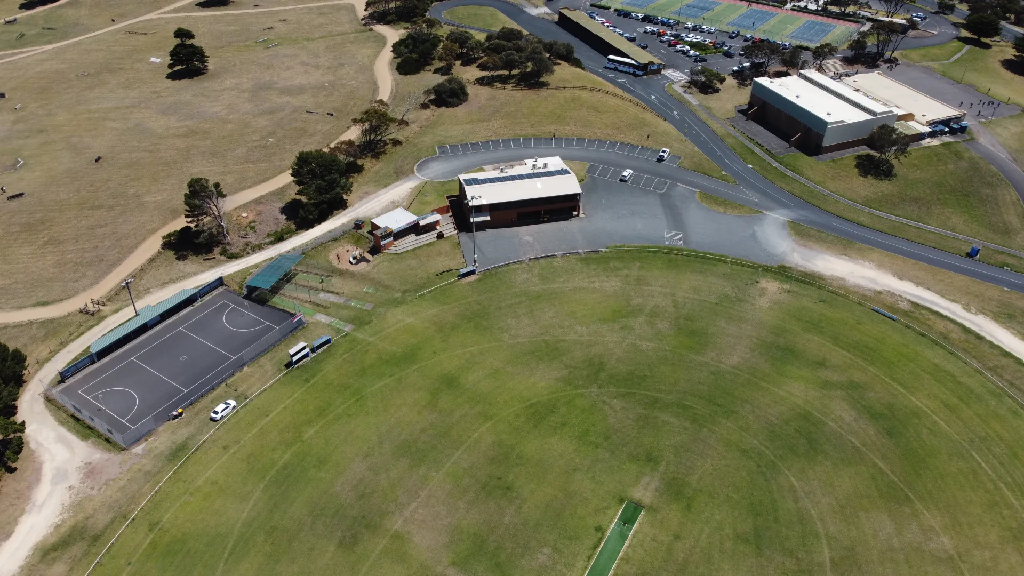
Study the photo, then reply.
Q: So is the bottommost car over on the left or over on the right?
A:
left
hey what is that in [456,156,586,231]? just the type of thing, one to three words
building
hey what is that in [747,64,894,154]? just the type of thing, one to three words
building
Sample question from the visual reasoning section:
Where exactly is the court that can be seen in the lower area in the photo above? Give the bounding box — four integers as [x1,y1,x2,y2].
[60,288,294,437]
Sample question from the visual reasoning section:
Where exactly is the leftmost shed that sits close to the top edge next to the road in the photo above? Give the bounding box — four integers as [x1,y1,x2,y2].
[558,7,663,76]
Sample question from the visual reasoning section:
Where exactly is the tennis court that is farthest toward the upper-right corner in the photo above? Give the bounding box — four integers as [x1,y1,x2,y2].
[620,0,839,44]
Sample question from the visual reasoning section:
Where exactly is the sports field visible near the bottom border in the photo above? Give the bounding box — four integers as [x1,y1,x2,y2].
[586,501,643,576]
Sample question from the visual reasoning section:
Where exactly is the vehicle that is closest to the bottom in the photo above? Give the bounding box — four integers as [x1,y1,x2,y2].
[207,399,238,420]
